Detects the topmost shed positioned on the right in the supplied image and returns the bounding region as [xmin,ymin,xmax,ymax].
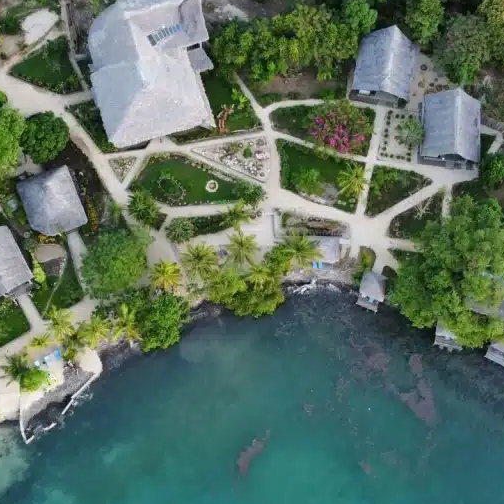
[348,24,418,110]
